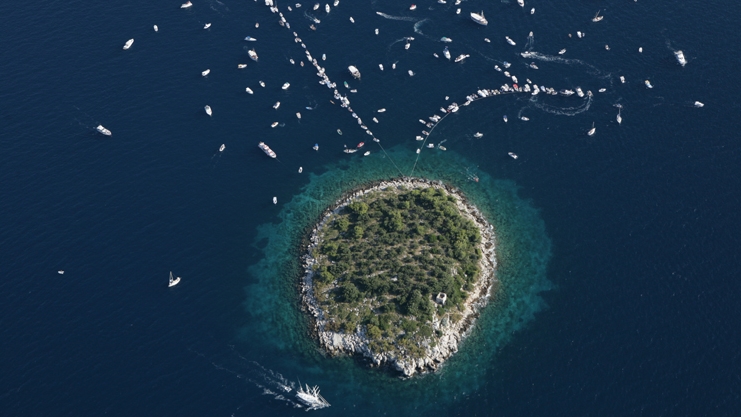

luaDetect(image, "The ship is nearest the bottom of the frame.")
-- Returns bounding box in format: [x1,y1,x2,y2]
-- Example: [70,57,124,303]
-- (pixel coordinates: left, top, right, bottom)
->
[296,380,331,405]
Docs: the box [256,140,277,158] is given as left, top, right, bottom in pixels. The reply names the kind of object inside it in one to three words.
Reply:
ship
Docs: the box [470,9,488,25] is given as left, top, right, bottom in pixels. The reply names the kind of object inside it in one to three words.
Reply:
boat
